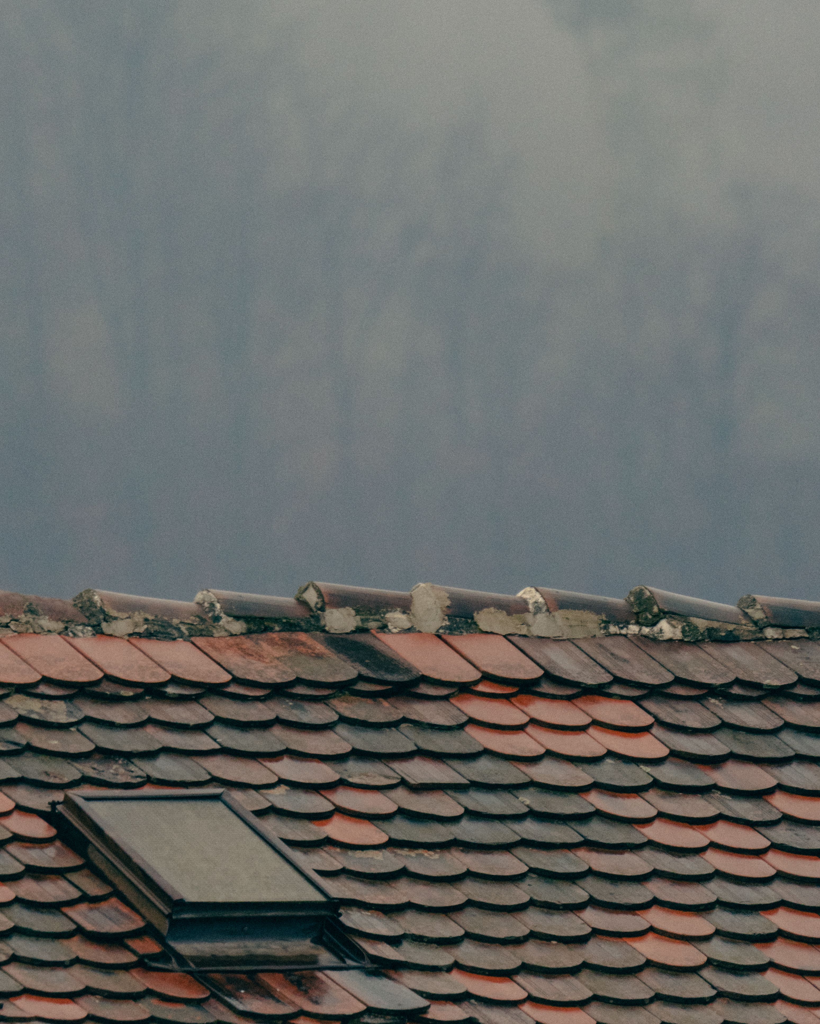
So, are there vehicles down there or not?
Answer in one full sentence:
No, I can't see a single vehicle in this photo.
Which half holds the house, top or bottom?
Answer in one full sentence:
The bottom half of the photo is where the house is.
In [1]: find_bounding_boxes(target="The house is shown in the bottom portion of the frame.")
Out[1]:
[0,582,820,1024]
